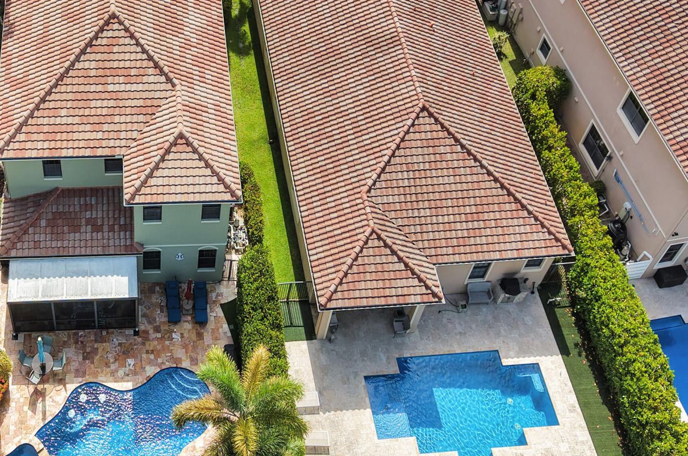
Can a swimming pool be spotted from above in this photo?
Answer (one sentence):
Yes, you can see a swimming pool in this photo.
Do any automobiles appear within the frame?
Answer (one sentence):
No, this view has no automobile in it.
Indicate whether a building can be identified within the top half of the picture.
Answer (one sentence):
Yes, I can see a building within the top half of the picture.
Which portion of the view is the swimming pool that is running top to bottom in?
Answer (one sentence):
The swimming pool that is running top to bottom appears toward the bottom right of the photo.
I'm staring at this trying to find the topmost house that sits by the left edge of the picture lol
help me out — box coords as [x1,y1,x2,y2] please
[0,0,247,282]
